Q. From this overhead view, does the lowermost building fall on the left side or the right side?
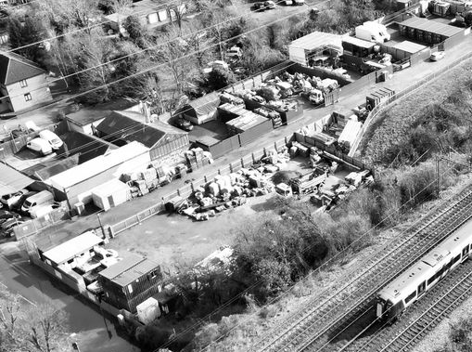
left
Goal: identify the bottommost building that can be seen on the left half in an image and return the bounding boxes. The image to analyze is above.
[82,241,160,305]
